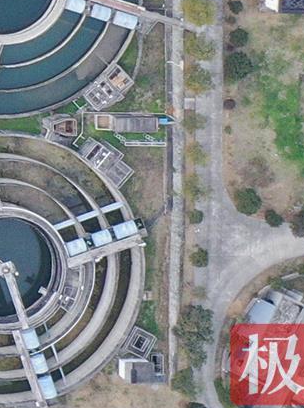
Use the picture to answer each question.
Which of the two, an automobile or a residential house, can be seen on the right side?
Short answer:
residential house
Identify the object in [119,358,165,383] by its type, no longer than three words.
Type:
shed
